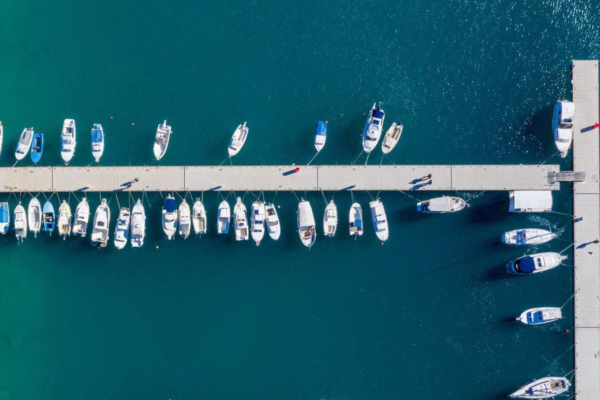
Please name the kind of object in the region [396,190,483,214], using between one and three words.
boat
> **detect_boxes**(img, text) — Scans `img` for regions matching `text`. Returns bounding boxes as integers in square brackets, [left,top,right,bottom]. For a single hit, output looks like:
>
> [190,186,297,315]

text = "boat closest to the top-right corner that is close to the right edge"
[544,98,577,165]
